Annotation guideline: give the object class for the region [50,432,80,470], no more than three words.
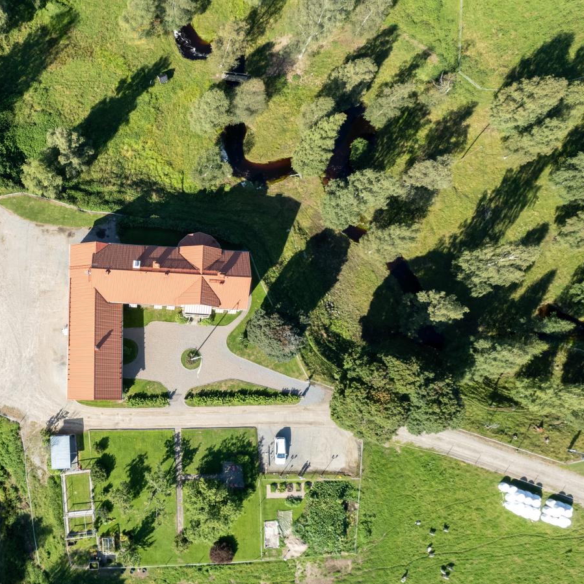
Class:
shed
